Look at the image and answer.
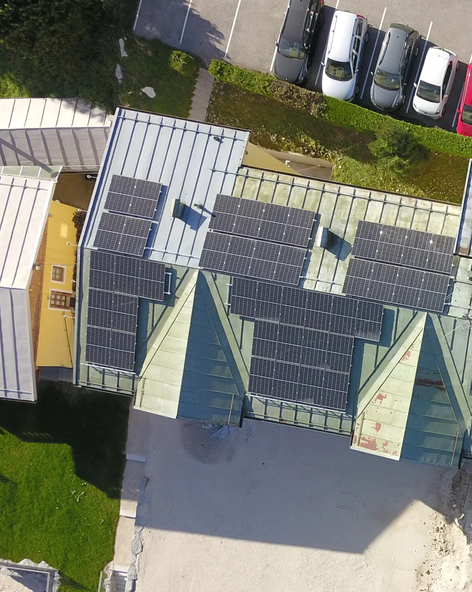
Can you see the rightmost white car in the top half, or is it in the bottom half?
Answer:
top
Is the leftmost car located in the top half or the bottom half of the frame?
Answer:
top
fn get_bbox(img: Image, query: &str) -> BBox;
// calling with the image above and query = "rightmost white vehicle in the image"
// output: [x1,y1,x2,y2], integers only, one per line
[410,36,460,120]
